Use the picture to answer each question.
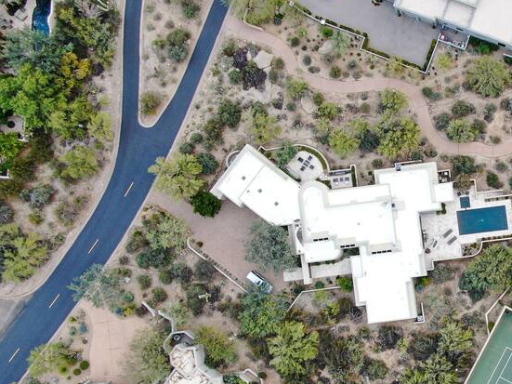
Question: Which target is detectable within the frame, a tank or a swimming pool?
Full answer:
There is a swimming pool in the scene.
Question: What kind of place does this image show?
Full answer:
This looks like a residential area.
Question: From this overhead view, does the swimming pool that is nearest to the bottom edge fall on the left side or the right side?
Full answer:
You can find the swimming pool that is nearest to the bottom edge on the right side of the picture.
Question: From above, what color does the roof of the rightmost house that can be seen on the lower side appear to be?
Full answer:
The roof over the rightmost house that can be seen on the lower side appears white.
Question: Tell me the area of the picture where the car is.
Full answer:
The car sits in the bottom section of the image.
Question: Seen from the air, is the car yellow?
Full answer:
No, from above the car looks white.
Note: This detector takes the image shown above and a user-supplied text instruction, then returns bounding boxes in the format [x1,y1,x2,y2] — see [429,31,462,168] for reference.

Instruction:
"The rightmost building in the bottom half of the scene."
[210,144,455,324]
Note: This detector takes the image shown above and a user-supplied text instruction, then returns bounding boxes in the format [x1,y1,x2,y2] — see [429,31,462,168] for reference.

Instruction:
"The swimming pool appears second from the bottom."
[459,194,472,211]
